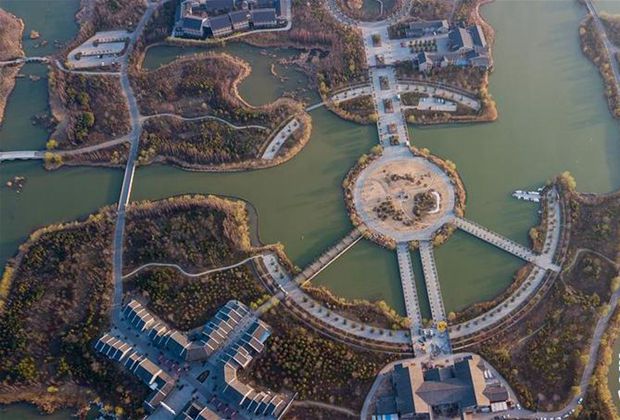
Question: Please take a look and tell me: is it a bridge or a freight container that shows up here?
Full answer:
Of the two, only a bridge appears.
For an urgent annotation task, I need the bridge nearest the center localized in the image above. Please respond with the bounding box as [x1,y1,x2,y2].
[293,226,361,286]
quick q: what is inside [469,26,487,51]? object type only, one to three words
building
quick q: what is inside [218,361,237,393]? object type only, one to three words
house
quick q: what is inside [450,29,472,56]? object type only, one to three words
building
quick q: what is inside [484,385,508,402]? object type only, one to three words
house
